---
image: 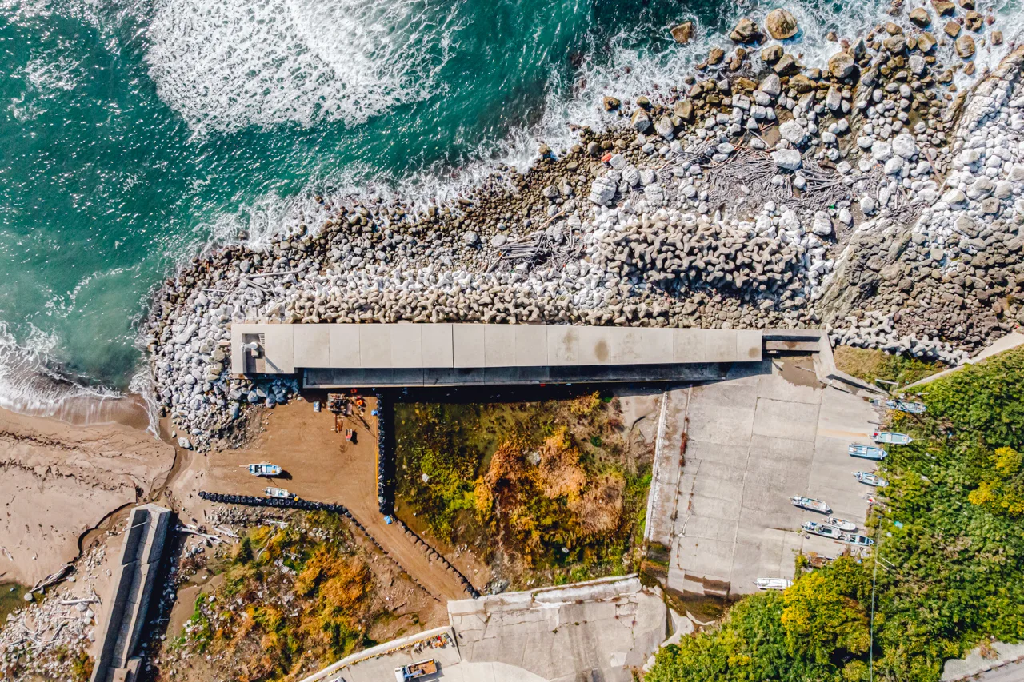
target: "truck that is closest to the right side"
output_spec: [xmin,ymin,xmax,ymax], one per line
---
[393,657,438,682]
